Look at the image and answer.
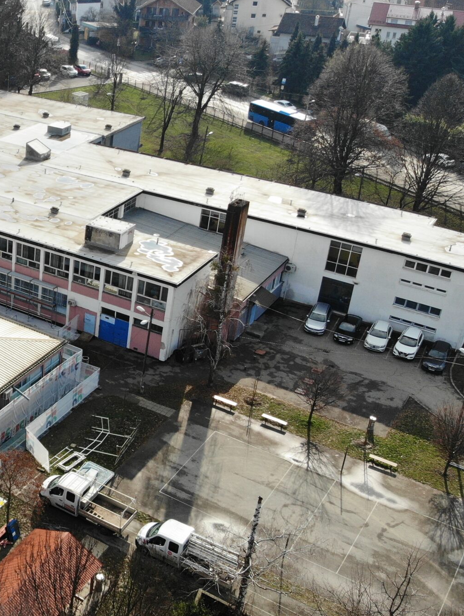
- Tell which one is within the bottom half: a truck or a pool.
truck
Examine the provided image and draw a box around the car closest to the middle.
[307,297,340,330]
